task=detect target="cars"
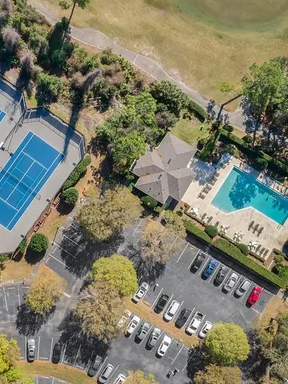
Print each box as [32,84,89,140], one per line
[176,308,191,327]
[52,342,61,361]
[88,356,102,376]
[197,321,212,339]
[133,283,148,301]
[246,287,262,305]
[202,260,217,278]
[126,316,140,335]
[148,328,161,347]
[99,364,114,383]
[235,278,252,297]
[28,339,36,358]
[212,266,228,285]
[155,294,170,312]
[190,253,205,271]
[136,322,150,341]
[121,310,131,320]
[164,301,180,320]
[157,335,172,354]
[224,273,239,291]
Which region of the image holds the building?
center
